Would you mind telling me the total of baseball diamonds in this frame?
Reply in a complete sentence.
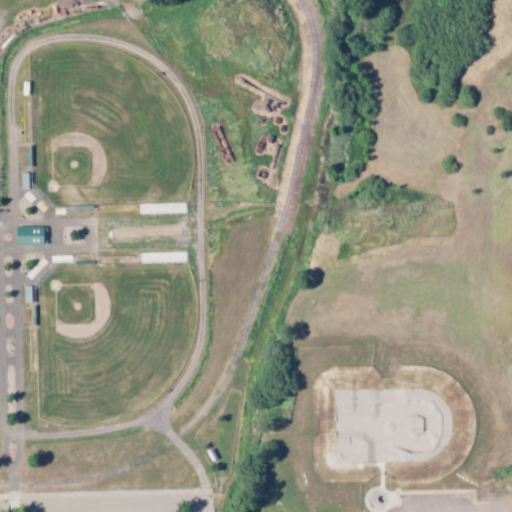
Looking from above, you can make out 2 baseball diamonds.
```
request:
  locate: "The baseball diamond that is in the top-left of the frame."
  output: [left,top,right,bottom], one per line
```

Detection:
[31,44,192,207]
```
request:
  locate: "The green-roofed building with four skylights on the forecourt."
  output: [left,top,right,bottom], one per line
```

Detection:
[17,226,46,245]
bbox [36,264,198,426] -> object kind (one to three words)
baseball field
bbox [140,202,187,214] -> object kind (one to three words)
shed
